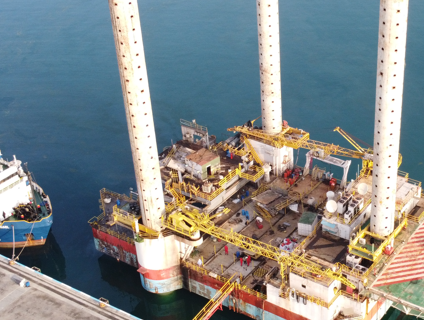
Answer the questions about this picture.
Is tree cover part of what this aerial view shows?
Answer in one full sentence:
No, the scene doesn't show any tree cover.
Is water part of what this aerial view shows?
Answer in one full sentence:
Yes, water shows up in the scene.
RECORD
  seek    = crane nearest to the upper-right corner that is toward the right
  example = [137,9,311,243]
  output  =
[223,119,374,187]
